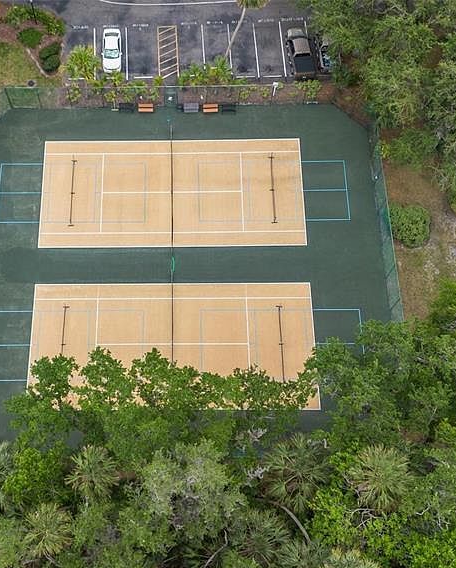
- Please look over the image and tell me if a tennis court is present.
Yes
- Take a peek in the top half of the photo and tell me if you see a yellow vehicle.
No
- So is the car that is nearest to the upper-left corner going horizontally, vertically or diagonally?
vertically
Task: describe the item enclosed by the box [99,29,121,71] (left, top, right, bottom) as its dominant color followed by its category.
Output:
white car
